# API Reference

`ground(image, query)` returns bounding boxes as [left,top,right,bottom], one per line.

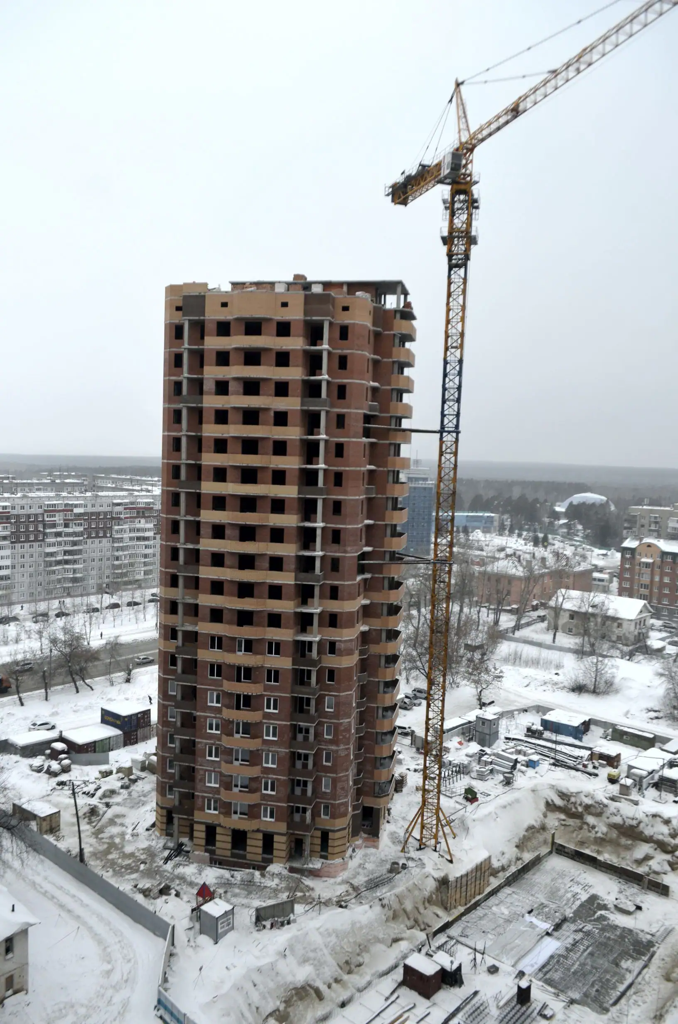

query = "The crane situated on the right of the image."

[361,0,678,865]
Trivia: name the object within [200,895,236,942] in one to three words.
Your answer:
building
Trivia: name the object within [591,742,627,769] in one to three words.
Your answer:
shed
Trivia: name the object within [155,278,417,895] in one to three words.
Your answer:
building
